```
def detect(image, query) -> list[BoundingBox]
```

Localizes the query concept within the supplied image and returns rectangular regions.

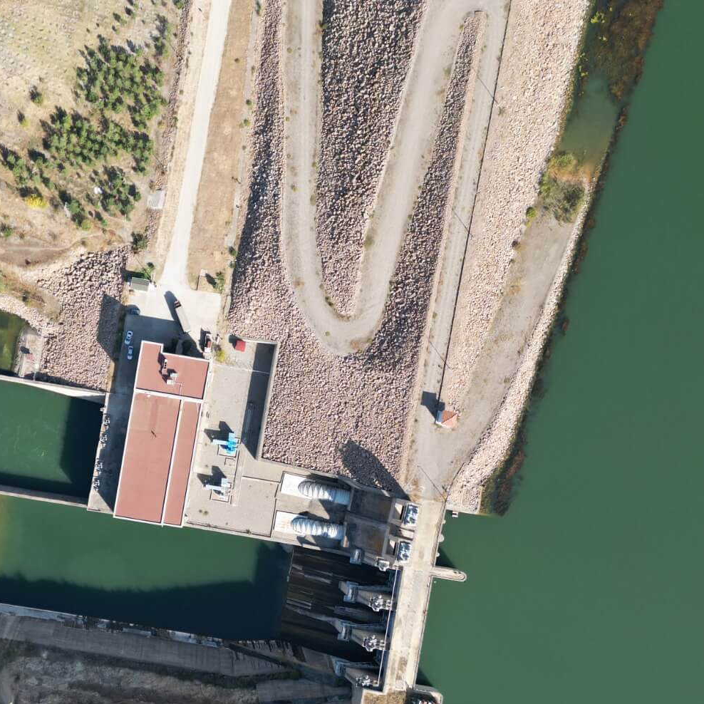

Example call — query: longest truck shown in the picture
[169,294,192,333]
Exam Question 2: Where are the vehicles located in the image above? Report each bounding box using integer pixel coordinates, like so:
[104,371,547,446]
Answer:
[169,294,192,333]
[128,307,141,315]
[127,345,133,360]
[204,331,213,352]
[125,330,133,344]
